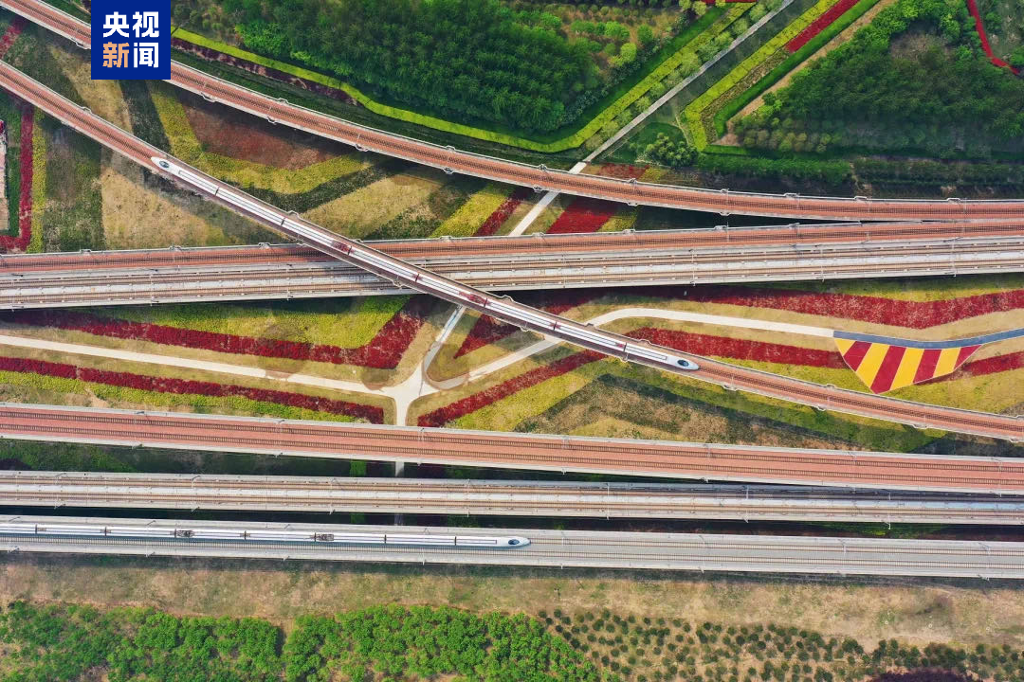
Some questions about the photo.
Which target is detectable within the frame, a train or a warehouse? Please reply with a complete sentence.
Looking from above, you can make out a train.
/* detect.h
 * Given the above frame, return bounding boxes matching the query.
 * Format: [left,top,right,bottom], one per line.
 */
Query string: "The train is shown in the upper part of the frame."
[155,159,695,368]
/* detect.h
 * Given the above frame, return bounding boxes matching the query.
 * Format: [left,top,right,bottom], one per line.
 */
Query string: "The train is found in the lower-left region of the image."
[0,523,527,548]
